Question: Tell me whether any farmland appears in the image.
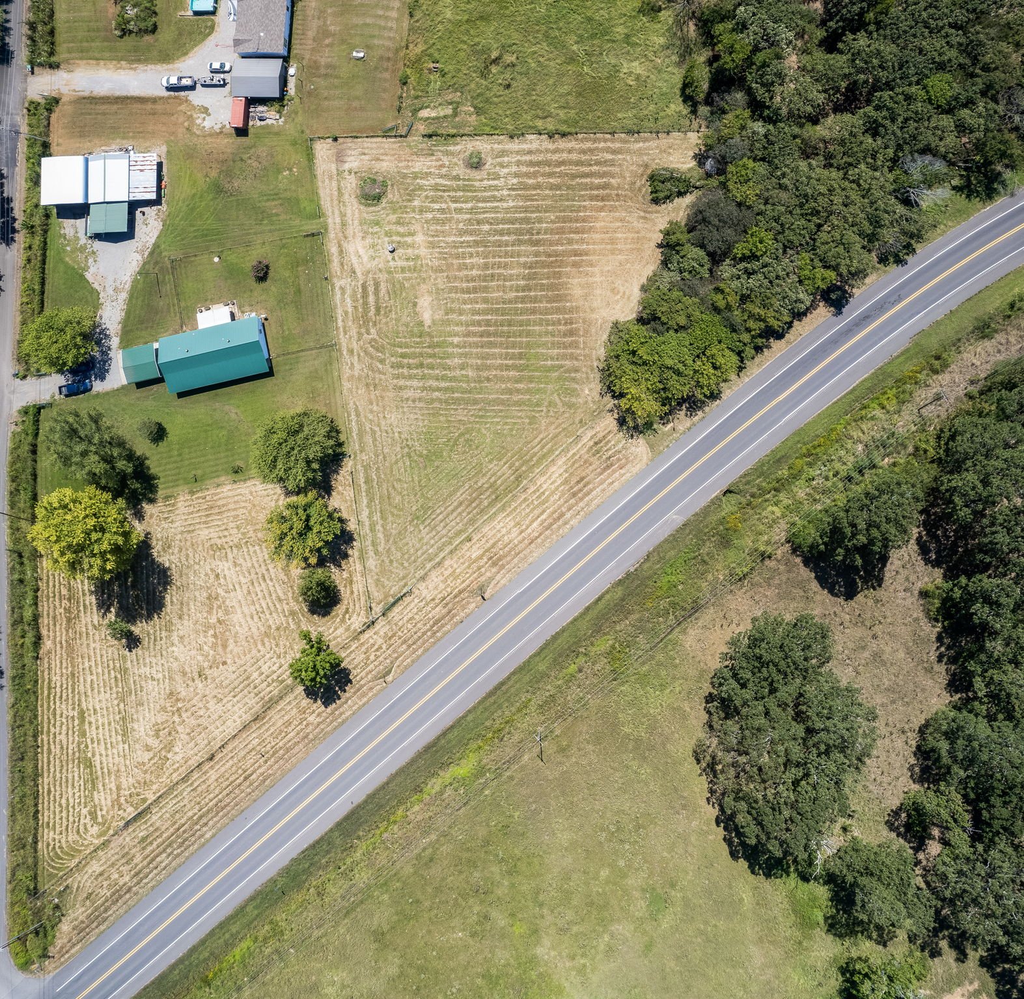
Yes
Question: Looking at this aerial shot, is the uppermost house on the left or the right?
left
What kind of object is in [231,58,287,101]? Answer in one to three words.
building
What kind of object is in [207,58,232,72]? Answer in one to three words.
car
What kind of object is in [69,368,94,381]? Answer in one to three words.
vehicle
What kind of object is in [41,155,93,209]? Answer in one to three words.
building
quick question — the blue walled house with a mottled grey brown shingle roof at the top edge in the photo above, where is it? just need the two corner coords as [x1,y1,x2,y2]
[233,0,290,56]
